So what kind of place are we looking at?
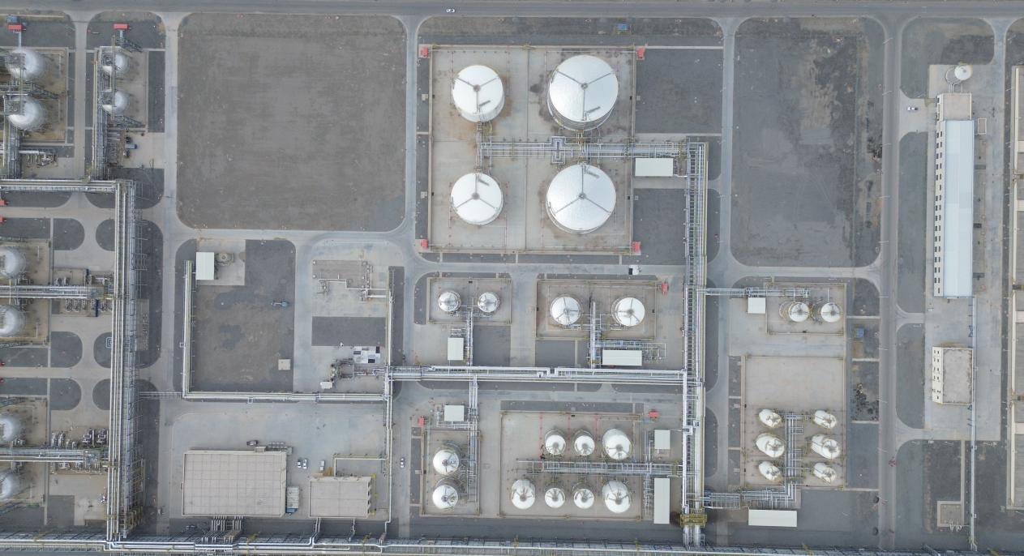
industrial area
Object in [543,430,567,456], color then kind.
white silo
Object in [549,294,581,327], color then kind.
white storage tank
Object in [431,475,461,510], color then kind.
white storage tank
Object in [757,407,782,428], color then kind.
white silo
